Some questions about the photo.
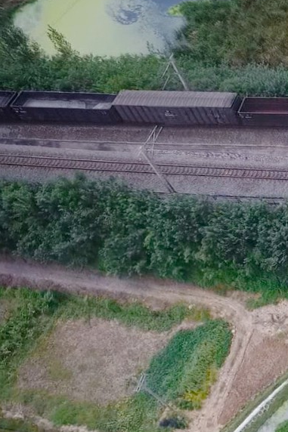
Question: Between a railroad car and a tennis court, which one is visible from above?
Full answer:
It is a railroad car that can be seen here.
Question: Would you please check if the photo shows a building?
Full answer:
No, this view has no building in it.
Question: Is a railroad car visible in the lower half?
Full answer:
No, I see no railroad car in the lower half.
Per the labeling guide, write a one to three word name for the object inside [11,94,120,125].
rail car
